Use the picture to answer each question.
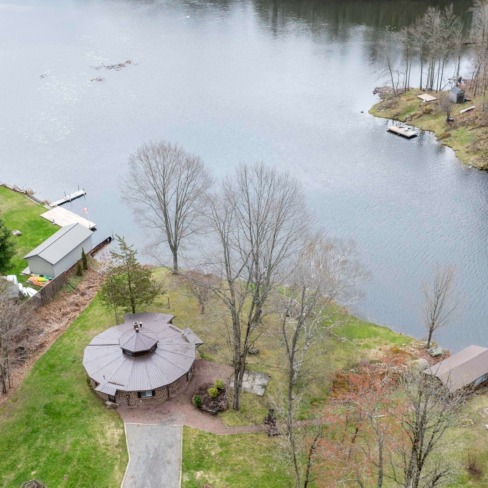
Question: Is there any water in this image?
Yes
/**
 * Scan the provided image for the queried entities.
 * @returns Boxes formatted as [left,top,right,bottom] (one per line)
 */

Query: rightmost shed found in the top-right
[443,82,466,104]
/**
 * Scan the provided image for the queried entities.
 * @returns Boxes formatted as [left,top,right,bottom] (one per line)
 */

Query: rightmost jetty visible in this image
[387,122,422,140]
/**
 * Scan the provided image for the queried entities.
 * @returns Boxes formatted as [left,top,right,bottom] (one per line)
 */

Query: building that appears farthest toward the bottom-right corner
[422,345,488,406]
